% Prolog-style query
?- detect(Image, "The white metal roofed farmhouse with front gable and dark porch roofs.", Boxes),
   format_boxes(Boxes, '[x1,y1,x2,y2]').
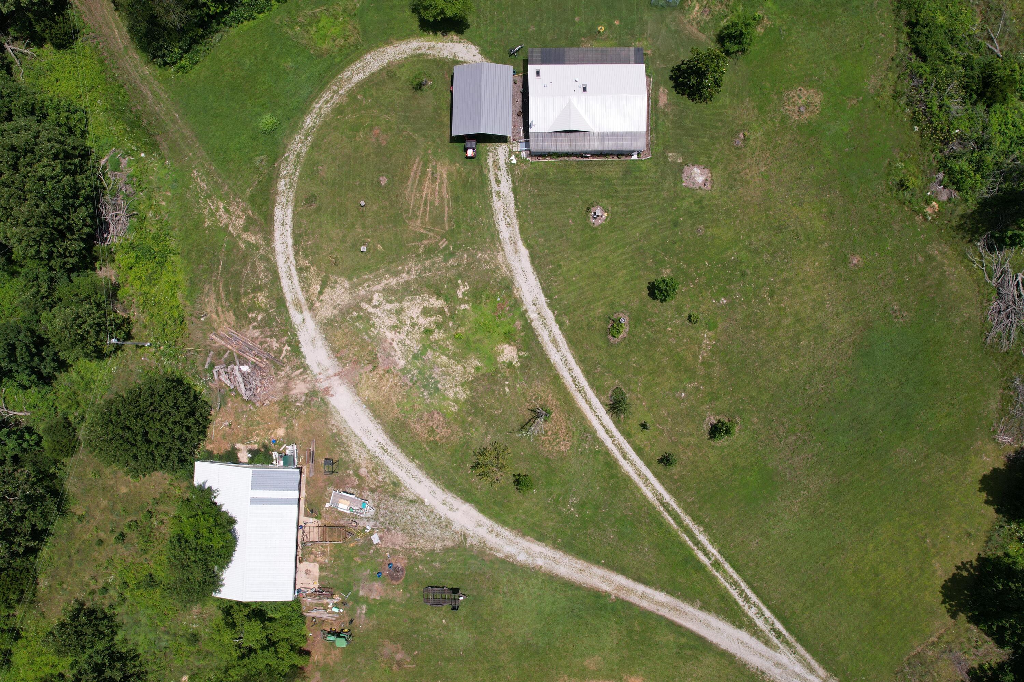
[528,47,648,155]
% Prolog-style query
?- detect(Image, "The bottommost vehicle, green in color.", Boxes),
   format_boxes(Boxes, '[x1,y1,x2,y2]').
[323,629,355,647]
